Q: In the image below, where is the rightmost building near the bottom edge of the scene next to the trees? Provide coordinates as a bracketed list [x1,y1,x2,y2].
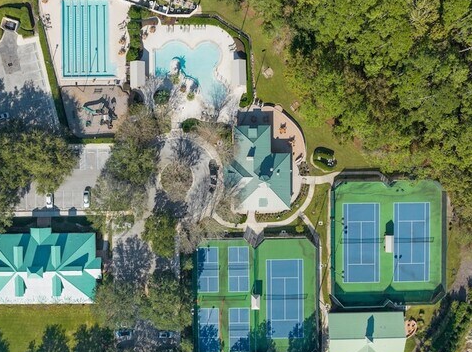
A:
[327,311,408,352]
